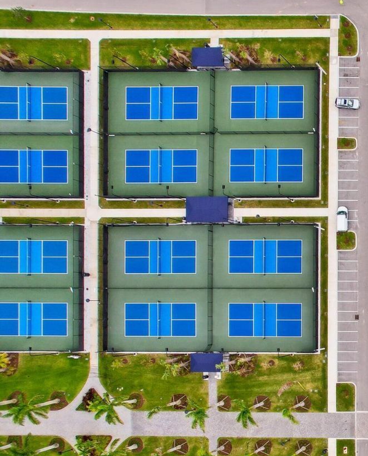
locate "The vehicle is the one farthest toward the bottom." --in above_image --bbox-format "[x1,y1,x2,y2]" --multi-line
[335,207,348,232]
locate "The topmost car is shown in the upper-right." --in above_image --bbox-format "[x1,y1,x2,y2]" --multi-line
[336,96,360,109]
